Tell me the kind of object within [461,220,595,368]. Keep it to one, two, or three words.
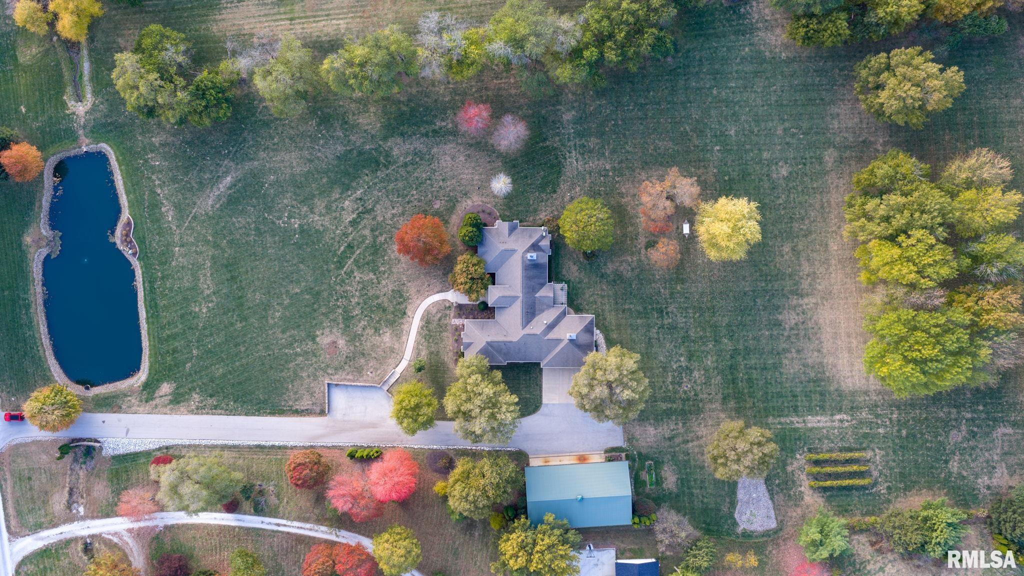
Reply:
house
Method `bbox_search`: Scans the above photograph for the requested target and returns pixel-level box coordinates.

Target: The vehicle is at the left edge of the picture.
[4,411,27,423]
